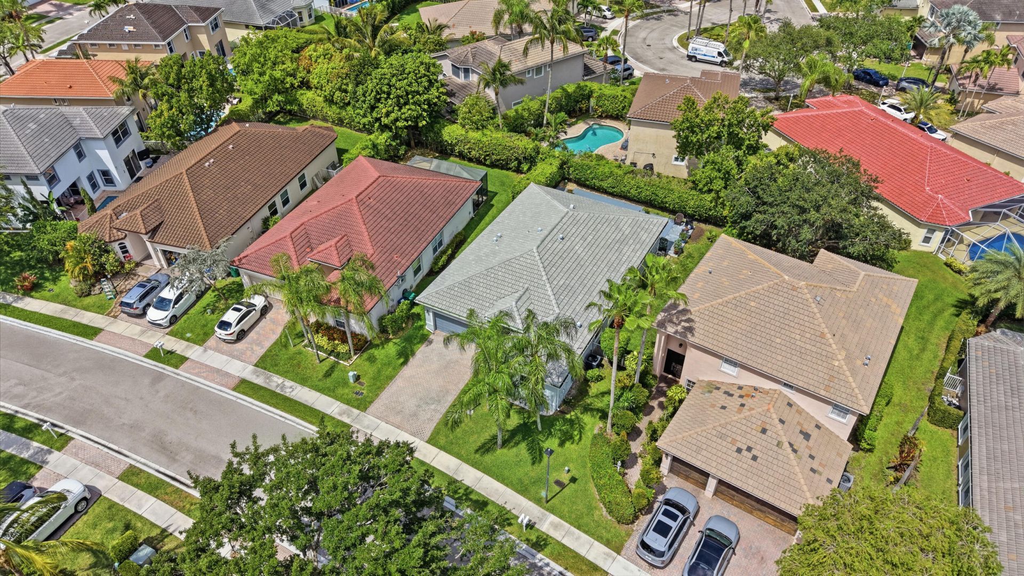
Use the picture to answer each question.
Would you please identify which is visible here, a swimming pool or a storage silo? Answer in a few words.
swimming pool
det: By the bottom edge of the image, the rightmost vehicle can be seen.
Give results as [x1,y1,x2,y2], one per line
[680,511,739,576]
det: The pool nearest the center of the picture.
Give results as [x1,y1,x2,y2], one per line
[560,122,625,161]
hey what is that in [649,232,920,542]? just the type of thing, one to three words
house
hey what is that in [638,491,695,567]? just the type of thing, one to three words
car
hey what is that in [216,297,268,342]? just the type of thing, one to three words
car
